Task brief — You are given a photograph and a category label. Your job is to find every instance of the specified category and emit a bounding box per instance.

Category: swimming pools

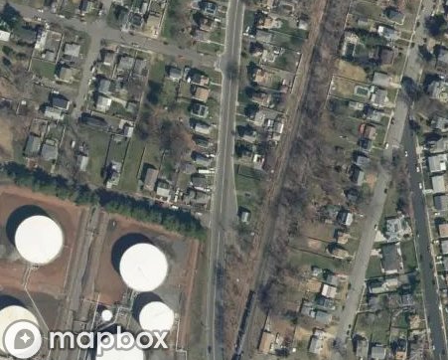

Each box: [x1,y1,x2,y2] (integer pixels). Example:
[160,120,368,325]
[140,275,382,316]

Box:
[354,85,370,98]
[344,41,356,55]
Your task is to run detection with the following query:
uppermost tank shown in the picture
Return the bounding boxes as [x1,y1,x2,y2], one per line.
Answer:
[14,216,63,264]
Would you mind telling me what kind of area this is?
residential area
